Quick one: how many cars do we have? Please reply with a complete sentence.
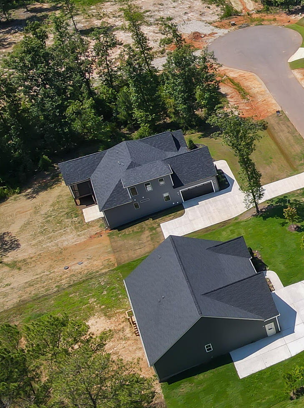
The picture shows no cars.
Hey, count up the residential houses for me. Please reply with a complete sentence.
My tally gives 2 residential houses in this view.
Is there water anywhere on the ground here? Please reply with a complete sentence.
No, water can't be seen anywhere here.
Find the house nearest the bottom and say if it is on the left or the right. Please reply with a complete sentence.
You can find the house nearest the bottom on the right side of the picture.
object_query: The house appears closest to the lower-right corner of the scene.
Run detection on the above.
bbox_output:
[124,234,283,382]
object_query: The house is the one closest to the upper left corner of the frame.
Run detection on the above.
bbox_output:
[56,130,221,229]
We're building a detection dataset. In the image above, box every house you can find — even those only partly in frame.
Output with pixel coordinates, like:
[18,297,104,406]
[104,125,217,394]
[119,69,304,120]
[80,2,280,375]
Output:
[56,130,221,229]
[124,234,283,382]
